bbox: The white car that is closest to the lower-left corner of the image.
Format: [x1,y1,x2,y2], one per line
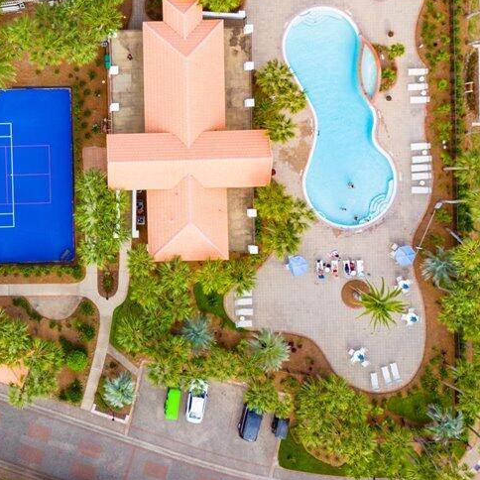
[186,381,210,429]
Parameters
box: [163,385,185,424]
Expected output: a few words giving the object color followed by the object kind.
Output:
green car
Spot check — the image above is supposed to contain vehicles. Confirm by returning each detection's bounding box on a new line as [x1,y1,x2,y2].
[239,400,267,447]
[272,410,294,447]
[186,381,210,429]
[163,385,185,424]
